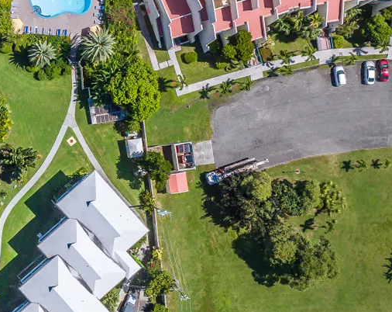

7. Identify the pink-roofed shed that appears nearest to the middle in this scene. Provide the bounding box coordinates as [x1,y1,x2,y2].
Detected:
[166,172,188,194]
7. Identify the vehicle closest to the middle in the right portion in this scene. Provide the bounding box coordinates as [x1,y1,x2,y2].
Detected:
[204,153,273,181]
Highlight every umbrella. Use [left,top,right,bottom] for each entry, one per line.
[11,19,24,32]
[88,23,102,36]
